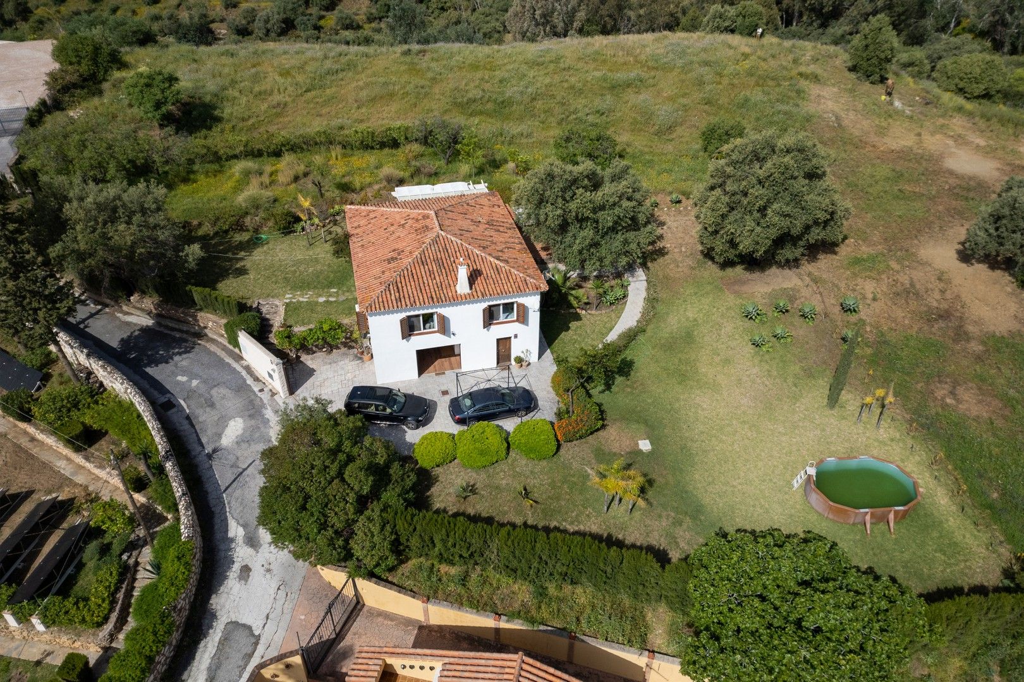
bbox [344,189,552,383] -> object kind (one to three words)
house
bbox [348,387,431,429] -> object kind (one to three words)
car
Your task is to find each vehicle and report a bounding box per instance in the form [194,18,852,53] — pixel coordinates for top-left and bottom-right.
[348,387,431,429]
[450,384,538,425]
